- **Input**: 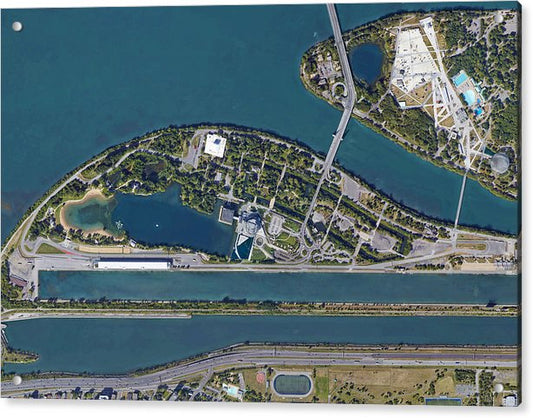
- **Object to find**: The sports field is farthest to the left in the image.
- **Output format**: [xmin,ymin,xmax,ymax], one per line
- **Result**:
[271,371,313,397]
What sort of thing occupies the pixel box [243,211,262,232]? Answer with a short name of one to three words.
building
